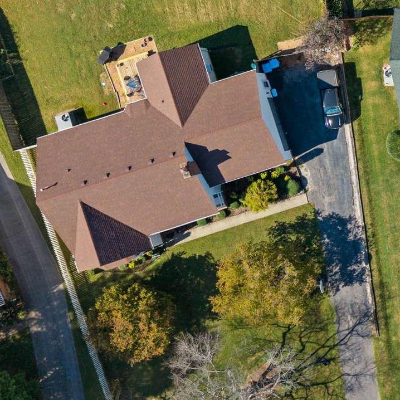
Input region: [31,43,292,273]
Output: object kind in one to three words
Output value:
house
